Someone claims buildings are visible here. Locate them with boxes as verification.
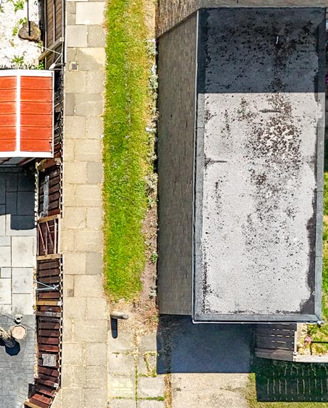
[0,67,54,165]
[158,8,327,327]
